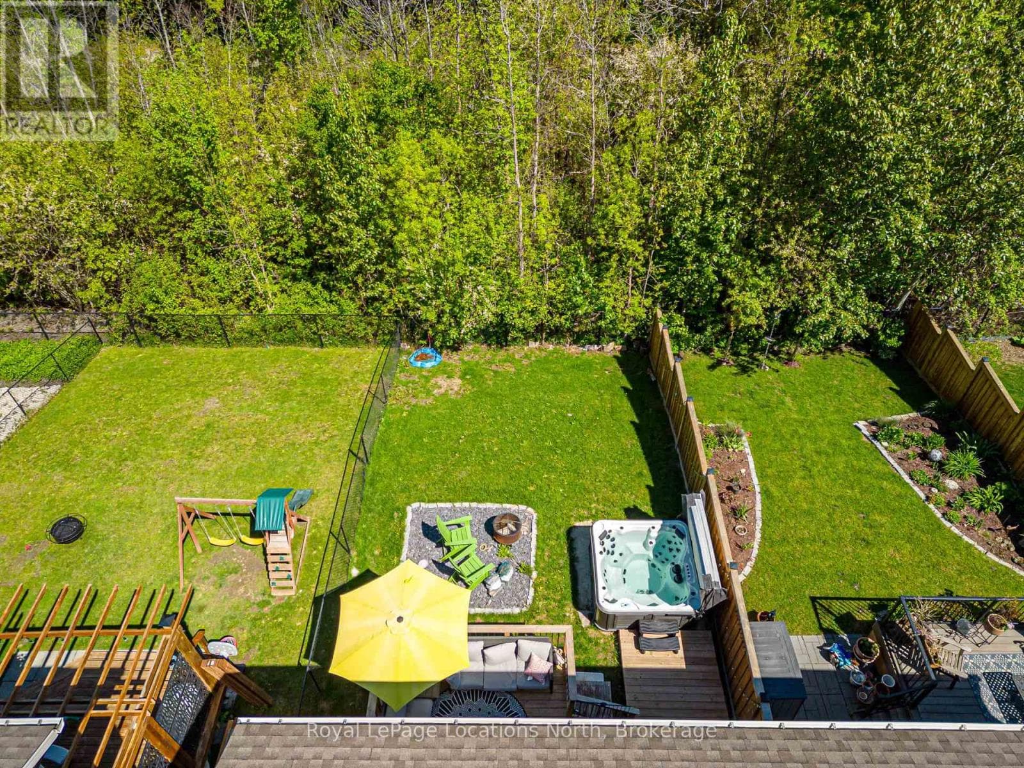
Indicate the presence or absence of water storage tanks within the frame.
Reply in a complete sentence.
No, there appears to be no water storage tank in this shot.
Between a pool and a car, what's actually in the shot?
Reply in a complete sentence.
There is a pool in the scene.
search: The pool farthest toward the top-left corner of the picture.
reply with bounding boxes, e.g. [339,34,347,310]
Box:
[409,344,444,368]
